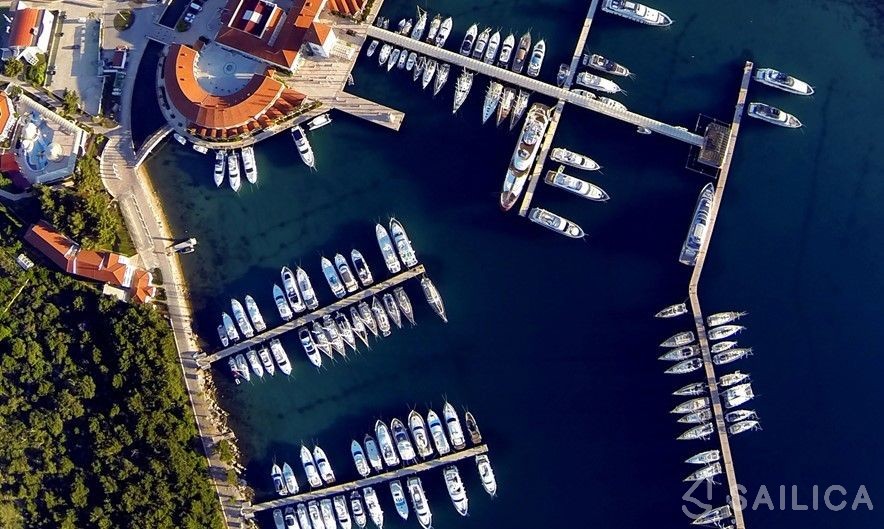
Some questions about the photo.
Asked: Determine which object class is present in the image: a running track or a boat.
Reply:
boat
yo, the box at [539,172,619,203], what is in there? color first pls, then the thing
white boat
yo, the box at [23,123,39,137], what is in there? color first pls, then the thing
white umbrella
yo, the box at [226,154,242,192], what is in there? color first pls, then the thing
white boat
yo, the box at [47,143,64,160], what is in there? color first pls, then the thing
white umbrella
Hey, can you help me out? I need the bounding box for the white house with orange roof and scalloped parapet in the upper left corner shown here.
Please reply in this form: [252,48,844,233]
[0,3,54,67]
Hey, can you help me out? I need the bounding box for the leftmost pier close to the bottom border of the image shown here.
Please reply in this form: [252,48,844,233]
[254,444,488,513]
